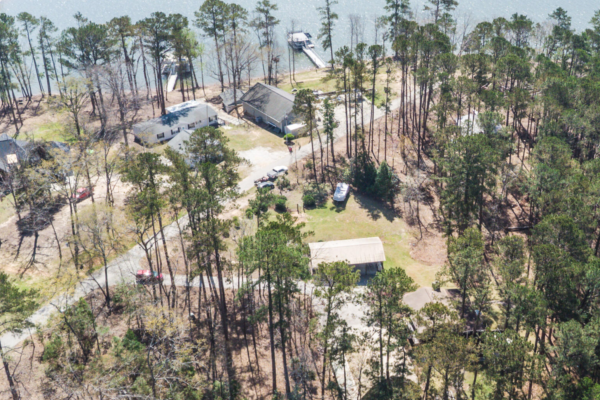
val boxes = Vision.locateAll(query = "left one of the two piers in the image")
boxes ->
[162,49,190,88]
